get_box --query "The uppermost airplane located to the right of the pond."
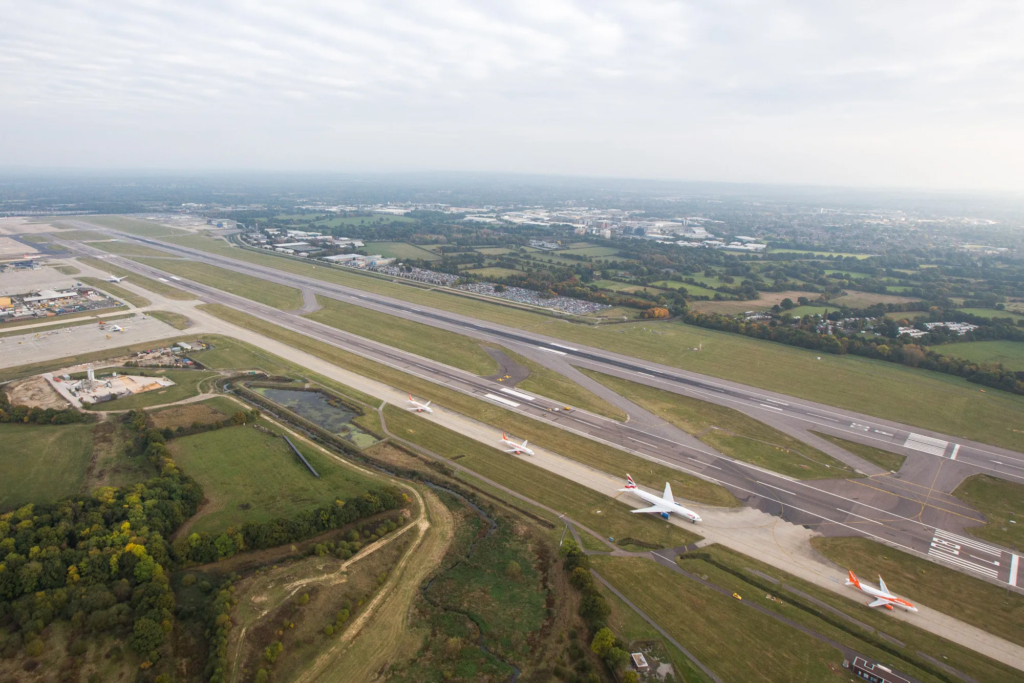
[402,391,431,409]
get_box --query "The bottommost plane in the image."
[844,569,918,611]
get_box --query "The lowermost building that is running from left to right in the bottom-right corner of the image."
[845,651,918,683]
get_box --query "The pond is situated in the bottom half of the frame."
[251,387,377,447]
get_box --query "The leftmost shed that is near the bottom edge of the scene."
[626,648,649,671]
